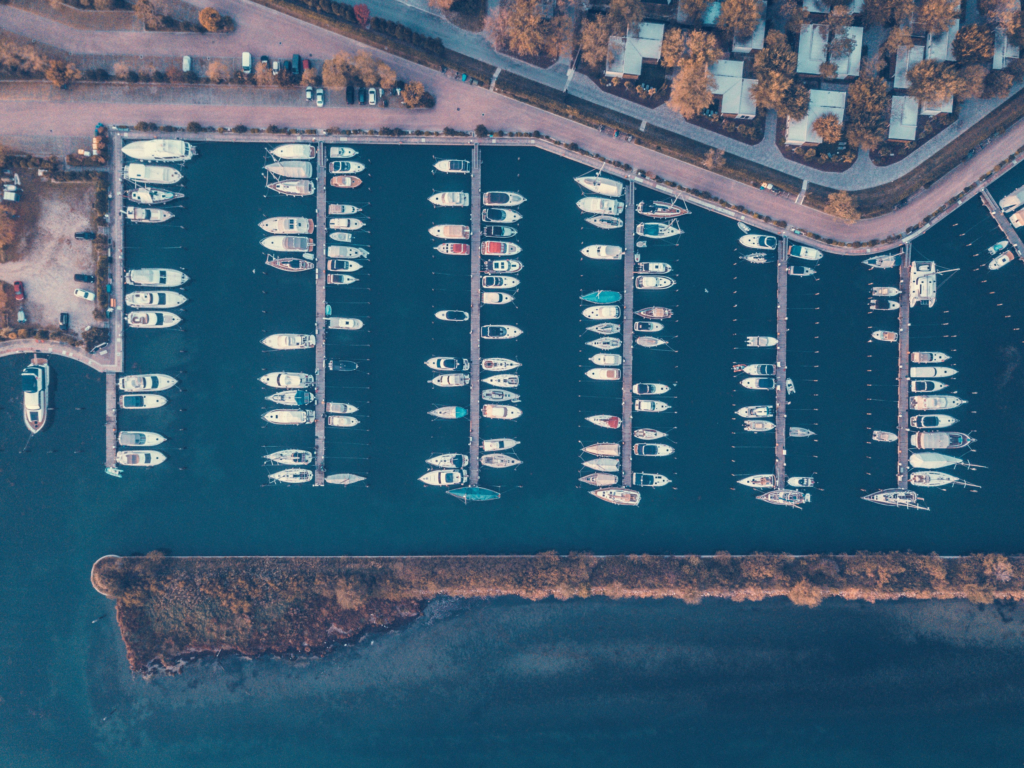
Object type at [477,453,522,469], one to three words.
boat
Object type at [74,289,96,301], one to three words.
vehicle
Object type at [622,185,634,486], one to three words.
pier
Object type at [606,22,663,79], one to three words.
house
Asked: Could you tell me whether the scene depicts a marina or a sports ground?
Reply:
marina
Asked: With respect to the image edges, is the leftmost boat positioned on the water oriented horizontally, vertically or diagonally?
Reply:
vertically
